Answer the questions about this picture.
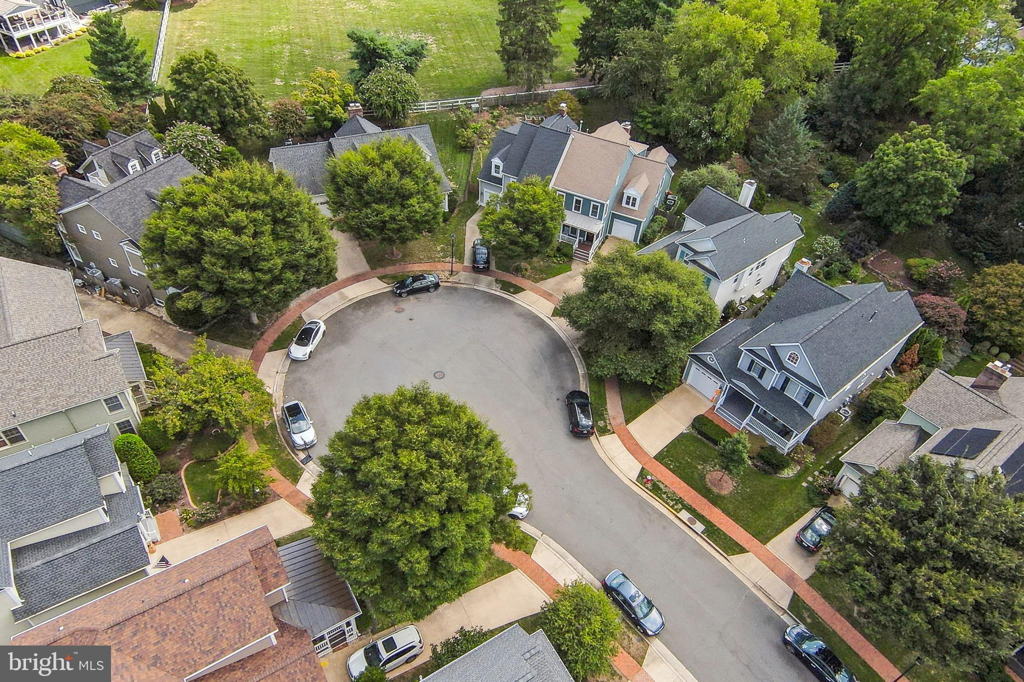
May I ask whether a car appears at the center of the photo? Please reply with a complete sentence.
Yes, a car can be seen at the center of the photo.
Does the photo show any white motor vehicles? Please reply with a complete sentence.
Yes, there is a white motor vehicle in the image.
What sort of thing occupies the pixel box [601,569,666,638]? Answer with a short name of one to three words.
car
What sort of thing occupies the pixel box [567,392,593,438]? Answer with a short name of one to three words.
car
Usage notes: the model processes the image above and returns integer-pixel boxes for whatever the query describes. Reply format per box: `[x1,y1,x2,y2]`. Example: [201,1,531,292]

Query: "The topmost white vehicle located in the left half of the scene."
[289,320,325,361]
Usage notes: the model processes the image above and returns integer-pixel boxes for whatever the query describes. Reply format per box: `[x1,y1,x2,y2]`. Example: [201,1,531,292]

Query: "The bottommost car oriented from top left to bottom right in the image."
[779,623,857,682]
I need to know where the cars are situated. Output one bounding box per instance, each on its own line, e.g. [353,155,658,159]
[779,623,857,682]
[567,392,593,438]
[392,277,442,300]
[471,241,490,269]
[289,320,325,361]
[601,569,666,638]
[794,505,840,556]
[346,620,426,671]
[283,399,318,451]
